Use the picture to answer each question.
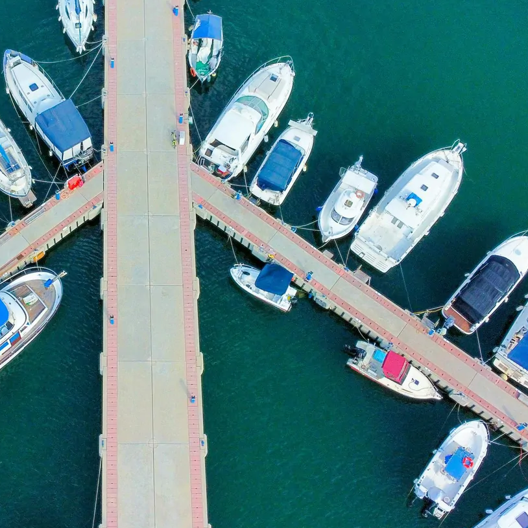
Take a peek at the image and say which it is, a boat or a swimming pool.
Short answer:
boat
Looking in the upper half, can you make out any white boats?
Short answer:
Yes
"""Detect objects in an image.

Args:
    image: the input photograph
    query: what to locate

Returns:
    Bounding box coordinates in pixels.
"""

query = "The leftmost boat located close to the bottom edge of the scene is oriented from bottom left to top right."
[413,419,488,522]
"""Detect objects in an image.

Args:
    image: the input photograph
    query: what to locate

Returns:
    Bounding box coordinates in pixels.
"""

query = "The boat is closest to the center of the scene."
[229,263,309,315]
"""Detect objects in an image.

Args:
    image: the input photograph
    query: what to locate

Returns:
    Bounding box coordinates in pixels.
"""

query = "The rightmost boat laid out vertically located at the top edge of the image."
[188,10,224,87]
